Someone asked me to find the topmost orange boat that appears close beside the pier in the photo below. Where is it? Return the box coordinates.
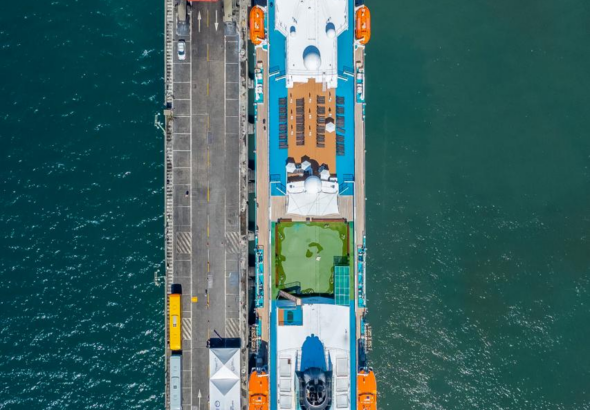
[249,6,264,46]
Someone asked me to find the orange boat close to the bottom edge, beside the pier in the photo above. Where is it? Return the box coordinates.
[248,368,270,410]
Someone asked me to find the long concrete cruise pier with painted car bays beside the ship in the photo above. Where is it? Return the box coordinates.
[166,0,255,410]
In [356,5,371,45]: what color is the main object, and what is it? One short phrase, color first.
orange boat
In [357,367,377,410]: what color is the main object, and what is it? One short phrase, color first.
orange boat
